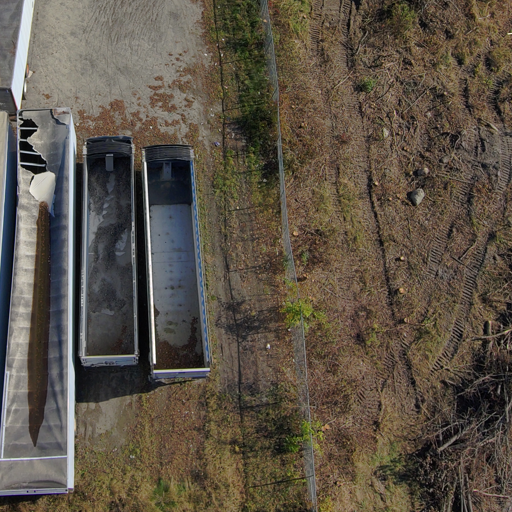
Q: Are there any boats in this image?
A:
No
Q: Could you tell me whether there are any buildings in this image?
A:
No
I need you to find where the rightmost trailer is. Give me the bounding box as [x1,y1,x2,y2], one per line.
[141,136,218,386]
